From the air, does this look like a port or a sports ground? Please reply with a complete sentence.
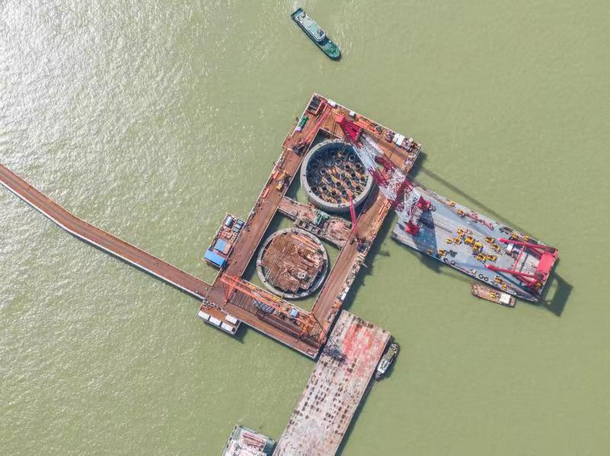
This image shows a port.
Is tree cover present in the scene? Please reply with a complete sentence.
No, the picture contains no tree cover.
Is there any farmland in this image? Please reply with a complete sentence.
No, no farmland is visible.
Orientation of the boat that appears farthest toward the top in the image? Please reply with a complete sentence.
The boat that appears farthest toward the top is laid out at an angle.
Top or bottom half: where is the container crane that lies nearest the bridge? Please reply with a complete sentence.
The bottom half of the photo is where the container crane that lies nearest the bridge is.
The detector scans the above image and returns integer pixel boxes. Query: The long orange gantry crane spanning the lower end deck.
[223,274,322,344]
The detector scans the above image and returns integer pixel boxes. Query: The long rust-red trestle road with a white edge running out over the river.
[0,163,212,300]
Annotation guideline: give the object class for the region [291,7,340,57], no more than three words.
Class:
boat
